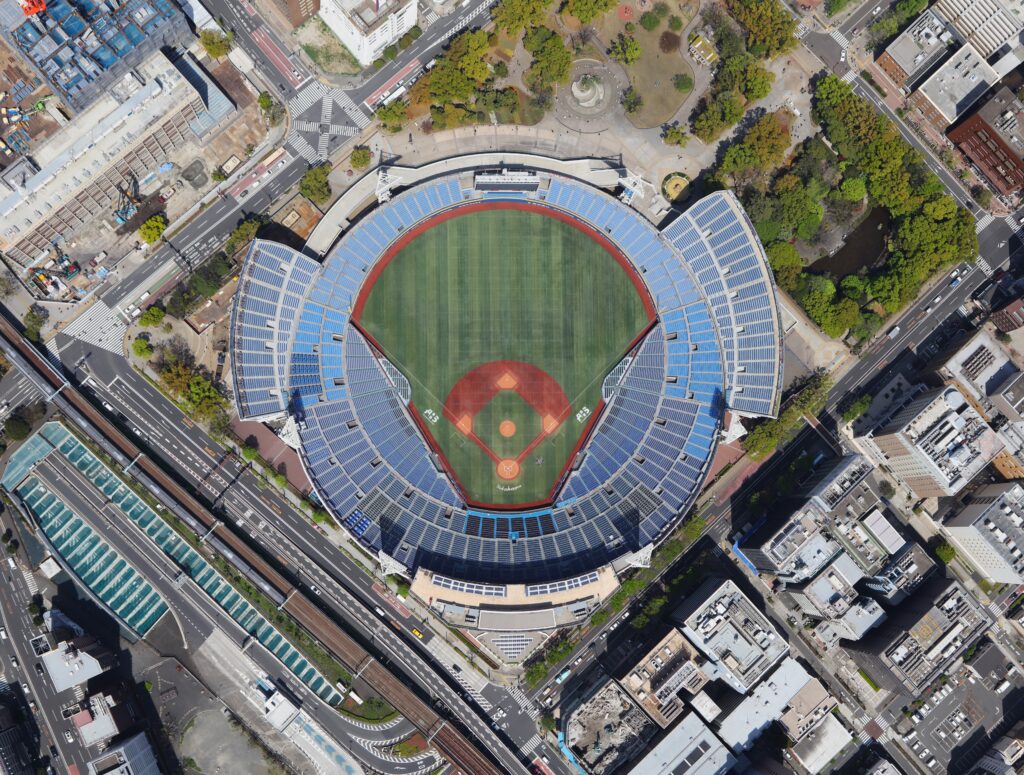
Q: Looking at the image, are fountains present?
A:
Yes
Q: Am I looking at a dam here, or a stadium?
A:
stadium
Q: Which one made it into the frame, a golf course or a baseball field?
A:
baseball field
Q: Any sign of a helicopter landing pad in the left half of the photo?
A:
No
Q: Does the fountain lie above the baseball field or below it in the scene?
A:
above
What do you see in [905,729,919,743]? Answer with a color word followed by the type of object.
white vehicle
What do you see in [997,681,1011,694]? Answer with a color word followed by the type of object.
white vehicle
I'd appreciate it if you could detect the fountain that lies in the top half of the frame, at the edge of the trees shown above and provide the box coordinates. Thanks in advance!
[556,59,620,123]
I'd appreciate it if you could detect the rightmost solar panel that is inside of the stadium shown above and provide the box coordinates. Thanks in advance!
[529,570,600,596]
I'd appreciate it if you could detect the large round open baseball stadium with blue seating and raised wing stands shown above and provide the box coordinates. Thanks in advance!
[231,152,786,630]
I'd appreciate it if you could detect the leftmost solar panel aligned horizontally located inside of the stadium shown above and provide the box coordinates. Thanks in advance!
[433,573,504,597]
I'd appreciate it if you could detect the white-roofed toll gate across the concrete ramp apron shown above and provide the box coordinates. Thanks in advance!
[263,690,301,731]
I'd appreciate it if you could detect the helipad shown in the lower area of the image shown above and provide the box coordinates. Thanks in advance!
[909,606,951,649]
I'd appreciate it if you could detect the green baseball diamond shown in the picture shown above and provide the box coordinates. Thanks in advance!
[351,204,655,511]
